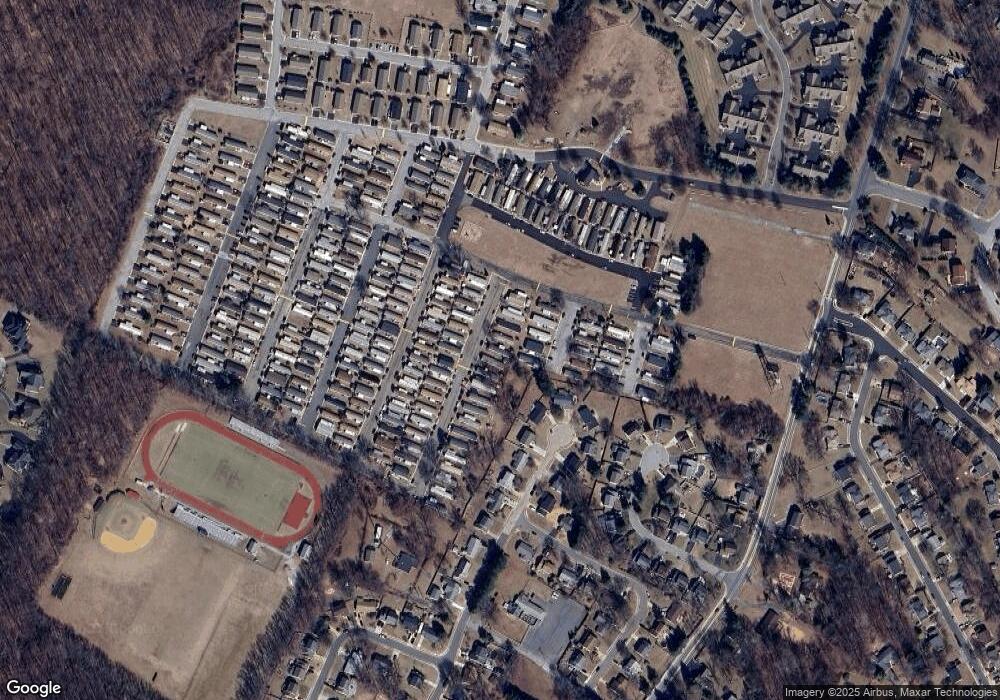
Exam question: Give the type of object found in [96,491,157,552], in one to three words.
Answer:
baseball field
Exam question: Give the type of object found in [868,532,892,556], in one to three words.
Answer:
house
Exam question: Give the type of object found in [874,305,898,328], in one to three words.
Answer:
house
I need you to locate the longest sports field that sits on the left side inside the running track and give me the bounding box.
[158,419,304,531]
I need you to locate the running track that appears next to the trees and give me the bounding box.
[142,410,322,543]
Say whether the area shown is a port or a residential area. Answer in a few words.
residential area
